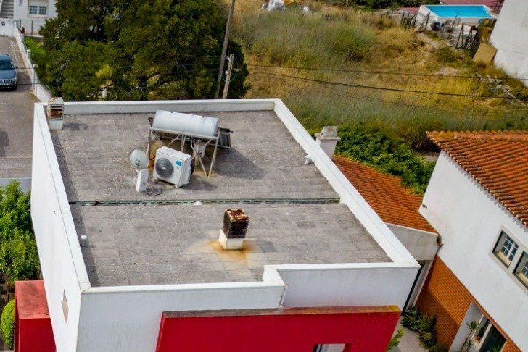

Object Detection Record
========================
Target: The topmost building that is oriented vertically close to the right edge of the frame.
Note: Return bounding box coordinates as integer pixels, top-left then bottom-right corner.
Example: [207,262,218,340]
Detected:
[493,0,528,79]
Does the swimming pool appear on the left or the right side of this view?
right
